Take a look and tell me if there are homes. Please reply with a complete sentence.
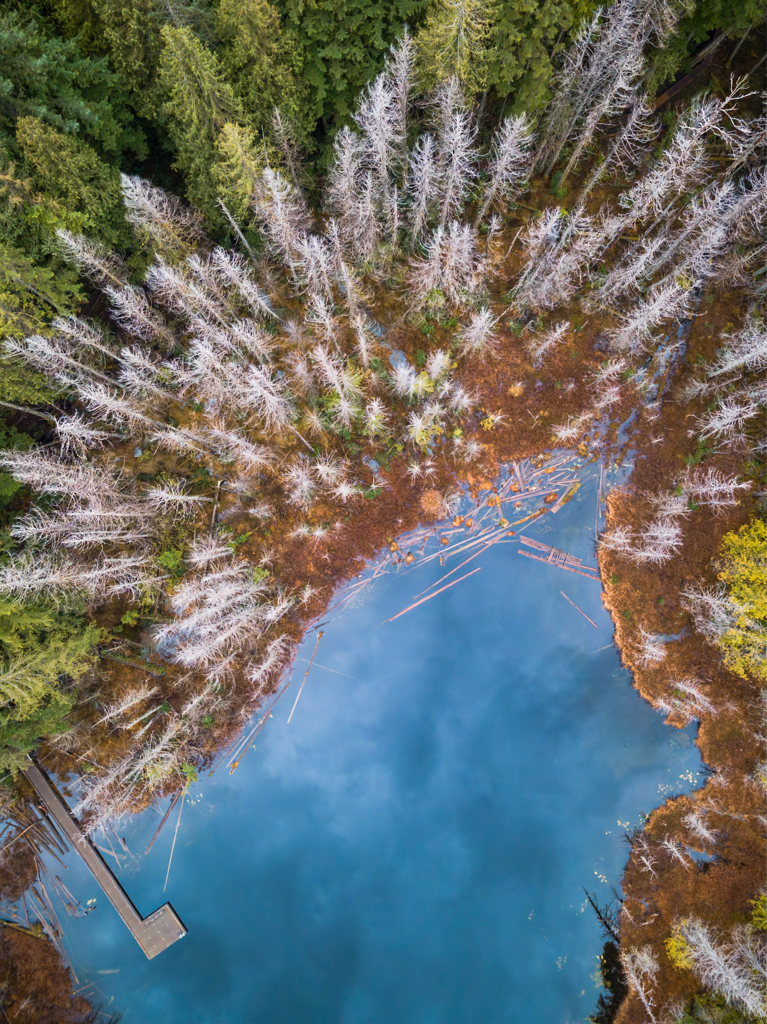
No, I can see no home in this picture.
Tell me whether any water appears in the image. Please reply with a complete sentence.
Yes, the picture does contain water.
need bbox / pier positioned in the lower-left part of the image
[21,755,188,961]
